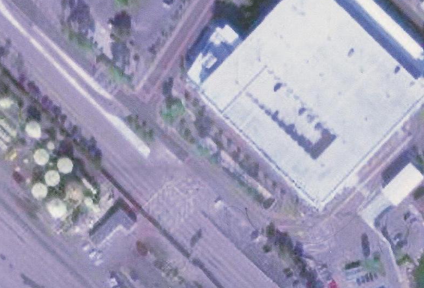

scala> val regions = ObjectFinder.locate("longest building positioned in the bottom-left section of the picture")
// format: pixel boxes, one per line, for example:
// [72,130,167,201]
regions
[91,211,135,247]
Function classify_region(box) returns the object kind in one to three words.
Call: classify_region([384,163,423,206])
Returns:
building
